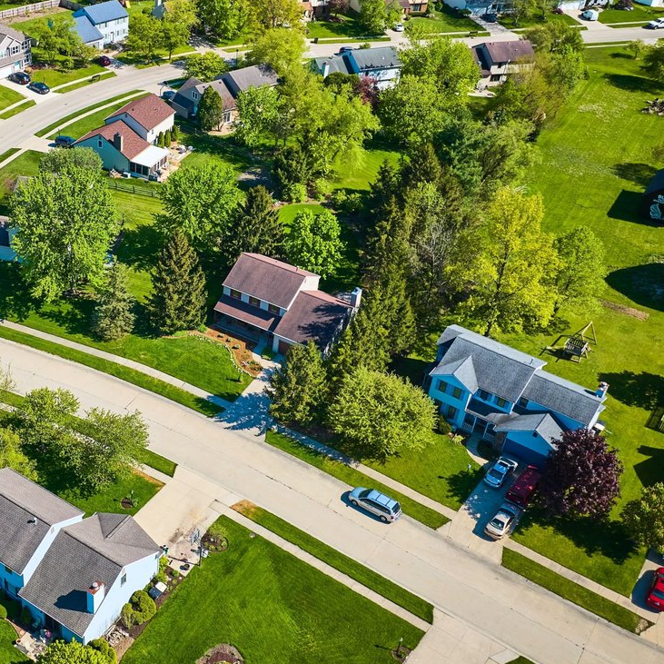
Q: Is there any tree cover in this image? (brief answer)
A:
Yes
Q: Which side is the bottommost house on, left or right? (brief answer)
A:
left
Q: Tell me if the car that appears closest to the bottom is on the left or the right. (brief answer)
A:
right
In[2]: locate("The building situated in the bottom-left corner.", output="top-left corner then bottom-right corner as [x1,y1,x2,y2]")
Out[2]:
[0,465,154,633]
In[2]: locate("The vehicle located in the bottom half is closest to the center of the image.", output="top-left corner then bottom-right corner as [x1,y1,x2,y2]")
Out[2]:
[347,487,403,522]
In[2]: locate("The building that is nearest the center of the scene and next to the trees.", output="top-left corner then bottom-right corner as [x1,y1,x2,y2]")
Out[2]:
[212,253,363,370]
